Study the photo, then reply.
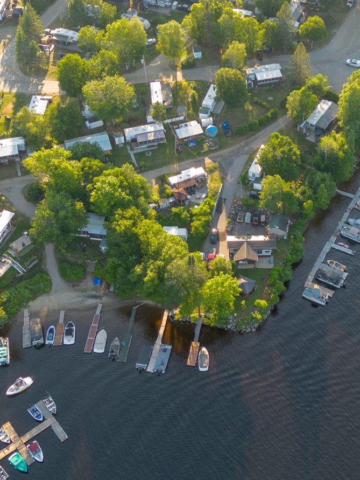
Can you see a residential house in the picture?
Yes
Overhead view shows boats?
Yes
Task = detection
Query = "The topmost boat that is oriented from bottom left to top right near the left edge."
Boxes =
[7,374,37,395]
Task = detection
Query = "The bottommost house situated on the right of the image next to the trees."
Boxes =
[228,235,276,271]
